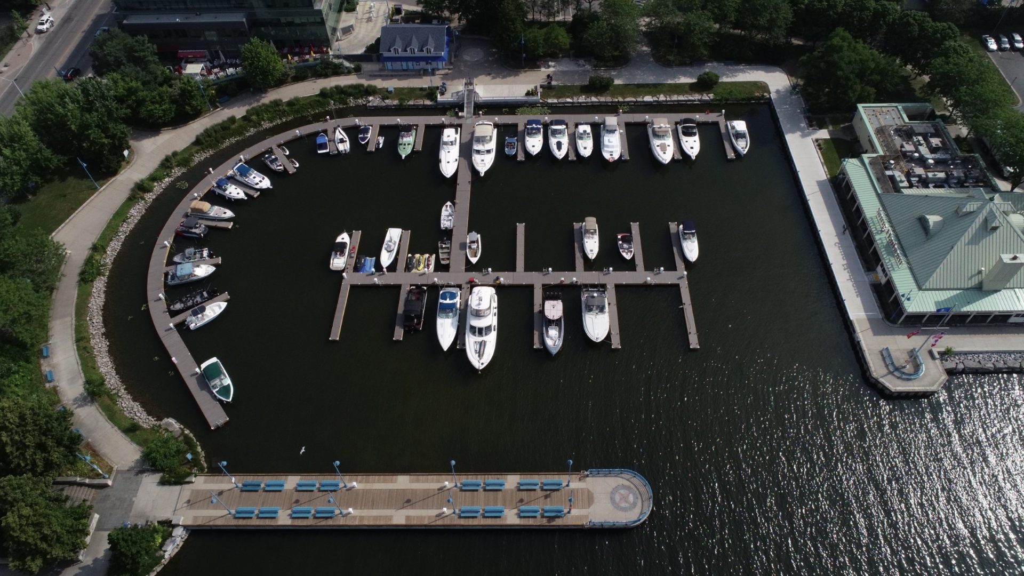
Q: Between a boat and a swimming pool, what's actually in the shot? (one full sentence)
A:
The one in the frame is a boat.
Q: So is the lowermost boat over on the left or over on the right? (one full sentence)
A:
The lowermost boat is on the left side of the image.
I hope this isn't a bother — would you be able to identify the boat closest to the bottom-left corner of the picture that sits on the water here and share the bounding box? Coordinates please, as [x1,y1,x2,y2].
[199,355,232,401]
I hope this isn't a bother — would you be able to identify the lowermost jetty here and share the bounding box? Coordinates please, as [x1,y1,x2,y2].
[183,469,650,530]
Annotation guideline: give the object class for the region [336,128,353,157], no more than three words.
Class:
boat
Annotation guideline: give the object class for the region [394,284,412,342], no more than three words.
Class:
pier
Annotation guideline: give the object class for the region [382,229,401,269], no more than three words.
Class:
boat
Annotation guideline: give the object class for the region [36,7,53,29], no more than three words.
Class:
car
